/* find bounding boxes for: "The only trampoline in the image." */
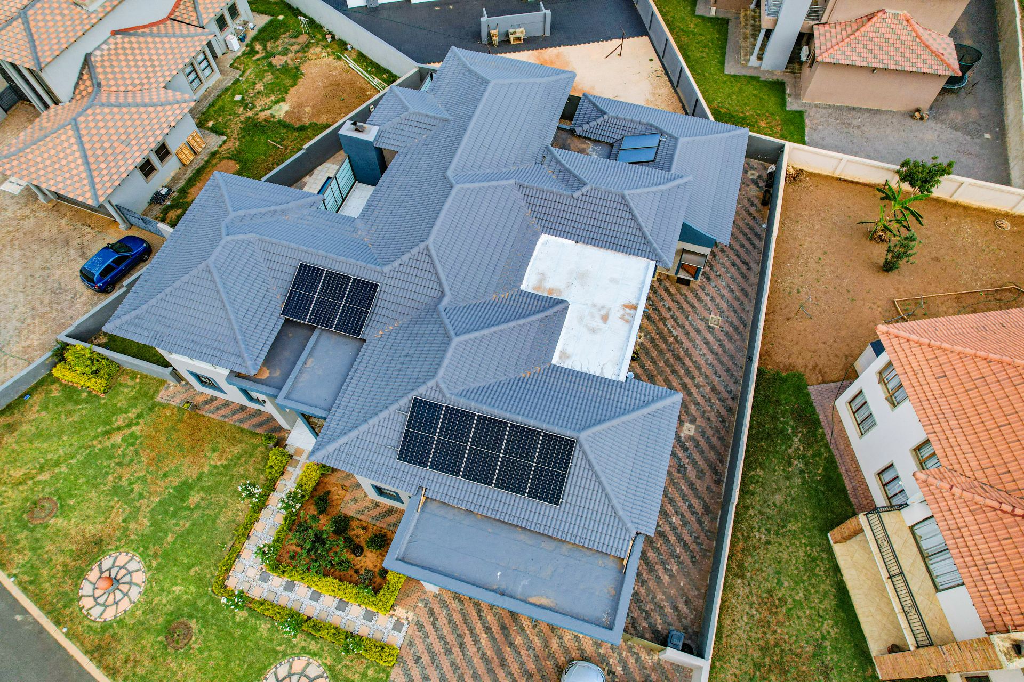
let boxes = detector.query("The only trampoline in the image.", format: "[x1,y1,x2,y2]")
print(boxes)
[938,36,990,99]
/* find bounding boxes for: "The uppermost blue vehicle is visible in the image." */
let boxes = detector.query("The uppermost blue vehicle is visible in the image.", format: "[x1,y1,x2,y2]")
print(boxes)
[73,235,151,297]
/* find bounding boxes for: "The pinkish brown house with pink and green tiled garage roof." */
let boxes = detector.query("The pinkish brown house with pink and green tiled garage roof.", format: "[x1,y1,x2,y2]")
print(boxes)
[703,0,968,110]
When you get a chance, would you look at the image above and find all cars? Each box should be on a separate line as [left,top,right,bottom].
[73,235,151,297]
[559,663,608,682]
